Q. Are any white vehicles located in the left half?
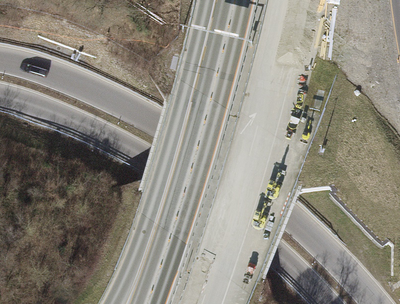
No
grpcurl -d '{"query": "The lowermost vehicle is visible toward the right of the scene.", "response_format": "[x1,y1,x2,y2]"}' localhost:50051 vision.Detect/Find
[243,261,258,284]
